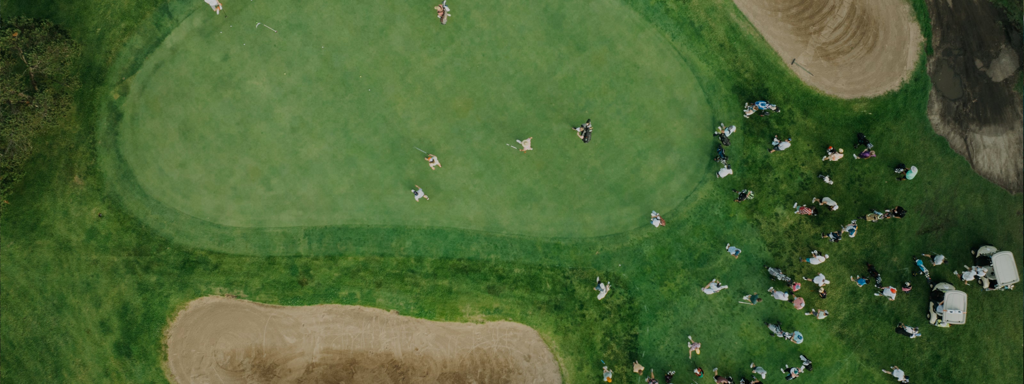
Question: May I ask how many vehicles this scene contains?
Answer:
2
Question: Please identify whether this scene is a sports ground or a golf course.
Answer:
golf course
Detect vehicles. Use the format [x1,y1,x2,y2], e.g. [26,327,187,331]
[969,244,1020,288]
[925,282,967,324]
